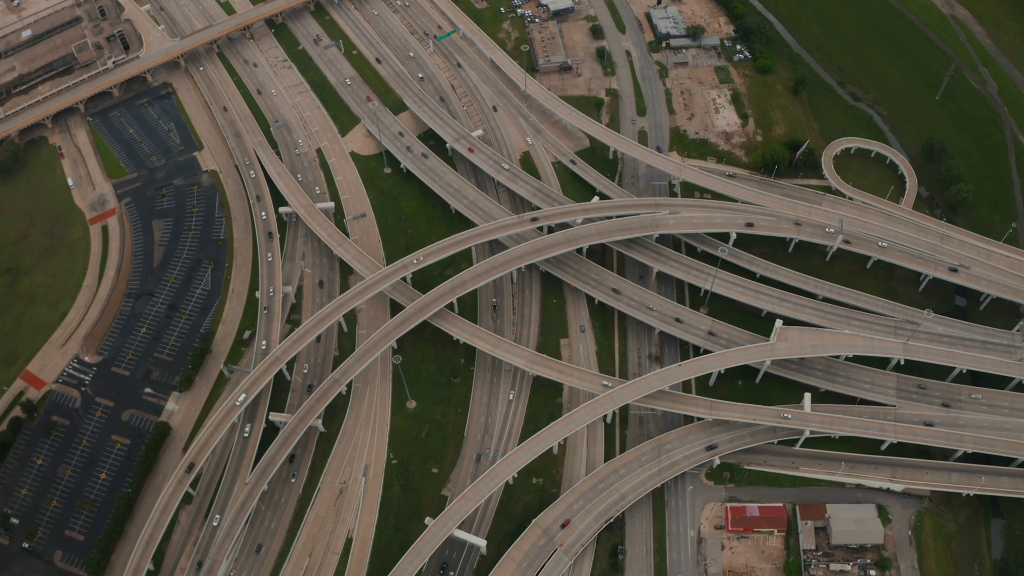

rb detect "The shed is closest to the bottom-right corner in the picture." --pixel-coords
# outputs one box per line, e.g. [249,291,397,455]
[825,504,883,547]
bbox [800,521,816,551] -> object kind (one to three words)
shed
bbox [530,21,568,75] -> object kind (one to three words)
building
